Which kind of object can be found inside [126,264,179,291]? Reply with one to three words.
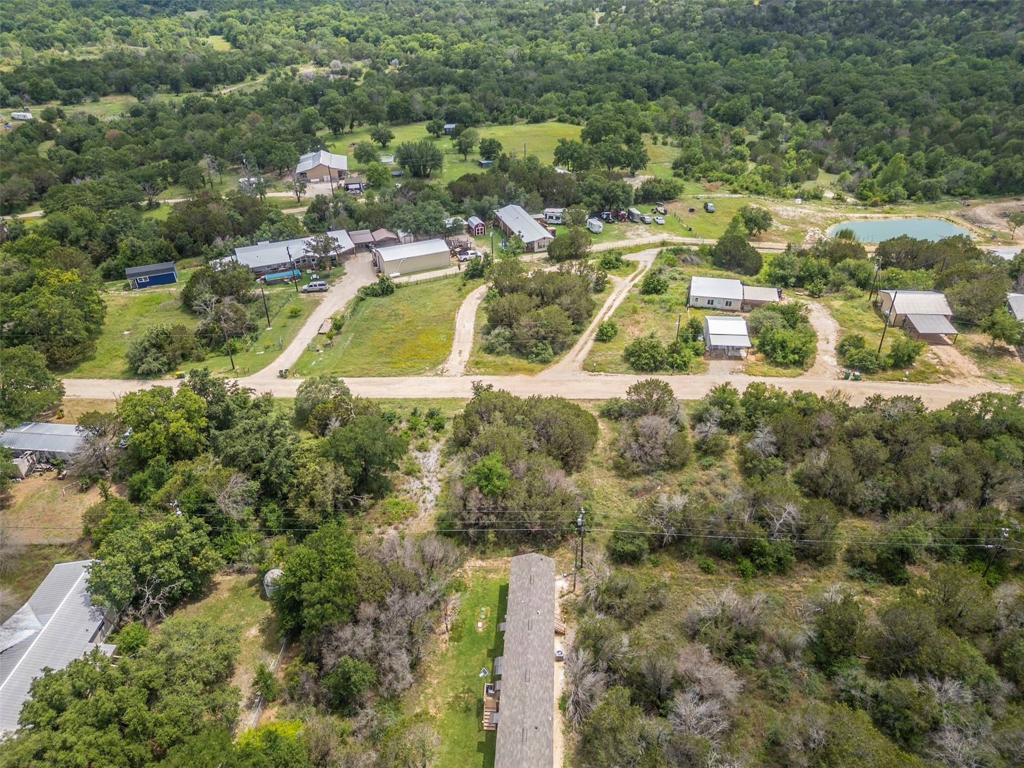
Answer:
shed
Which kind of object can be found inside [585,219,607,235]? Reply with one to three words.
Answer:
vehicle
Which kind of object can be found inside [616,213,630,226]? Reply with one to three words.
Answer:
vehicle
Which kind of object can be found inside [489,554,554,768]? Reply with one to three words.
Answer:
house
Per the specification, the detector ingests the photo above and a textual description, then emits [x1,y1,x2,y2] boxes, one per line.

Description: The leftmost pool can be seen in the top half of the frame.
[263,270,302,283]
